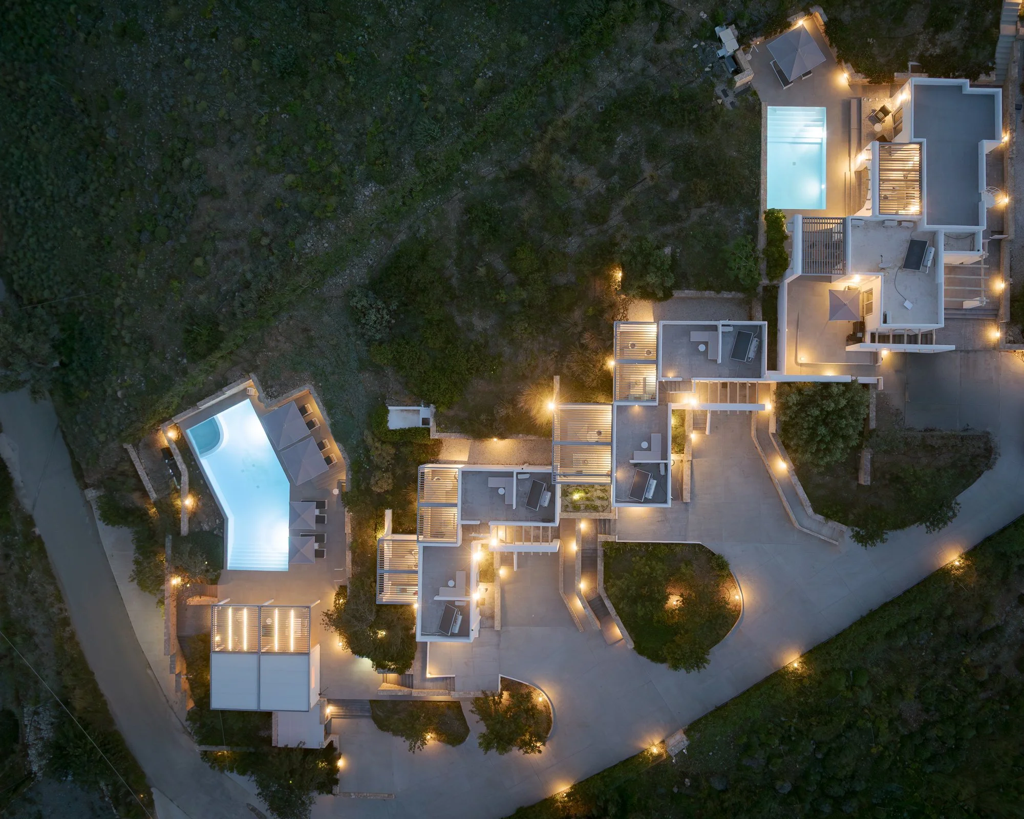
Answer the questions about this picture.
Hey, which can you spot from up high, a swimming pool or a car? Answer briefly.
swimming pool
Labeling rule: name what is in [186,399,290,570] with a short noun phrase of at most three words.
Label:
swimming pool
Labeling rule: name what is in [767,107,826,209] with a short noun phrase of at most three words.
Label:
swimming pool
